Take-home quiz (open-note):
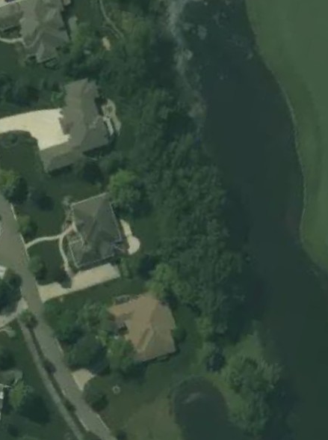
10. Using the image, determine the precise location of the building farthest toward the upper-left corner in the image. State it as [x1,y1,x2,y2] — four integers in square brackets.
[0,0,74,63]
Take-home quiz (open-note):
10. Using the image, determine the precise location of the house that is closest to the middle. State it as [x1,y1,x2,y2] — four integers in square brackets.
[69,193,127,271]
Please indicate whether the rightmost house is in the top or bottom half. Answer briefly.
bottom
